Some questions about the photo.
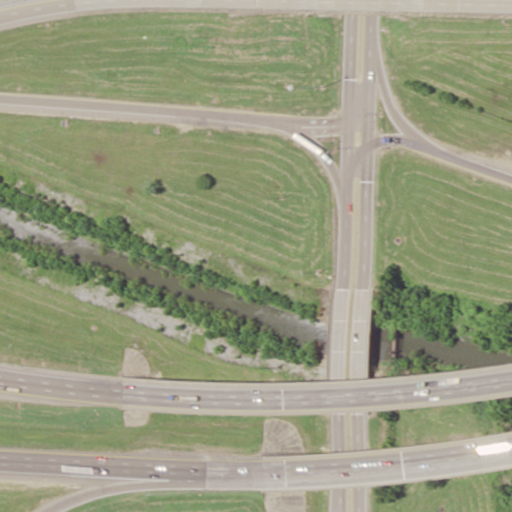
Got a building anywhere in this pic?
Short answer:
No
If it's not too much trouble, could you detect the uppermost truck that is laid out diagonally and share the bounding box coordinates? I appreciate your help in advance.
[294,134,332,164]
